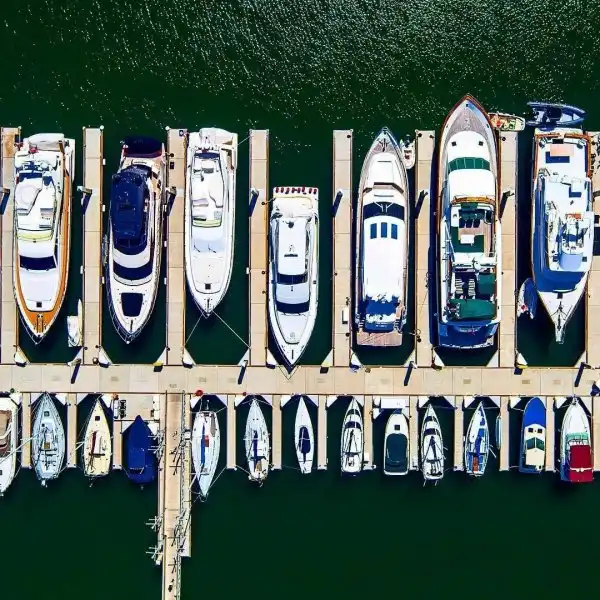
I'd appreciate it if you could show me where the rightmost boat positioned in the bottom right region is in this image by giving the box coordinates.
[555,395,594,483]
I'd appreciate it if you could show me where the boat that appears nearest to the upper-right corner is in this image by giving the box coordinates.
[528,101,587,127]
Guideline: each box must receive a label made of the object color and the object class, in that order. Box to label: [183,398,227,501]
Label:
white boat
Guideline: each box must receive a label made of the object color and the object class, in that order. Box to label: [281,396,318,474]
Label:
white boat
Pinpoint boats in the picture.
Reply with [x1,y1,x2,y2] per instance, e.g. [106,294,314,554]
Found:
[384,408,410,475]
[105,135,171,344]
[281,396,318,474]
[352,123,417,347]
[510,397,547,473]
[0,394,24,497]
[340,396,367,475]
[463,401,504,476]
[401,136,415,169]
[237,400,273,485]
[2,393,68,483]
[518,281,540,323]
[122,415,158,484]
[528,101,587,127]
[265,186,319,376]
[489,111,526,129]
[62,395,114,477]
[418,403,456,485]
[183,398,227,501]
[12,134,84,343]
[555,395,594,483]
[432,91,502,348]
[183,127,253,347]
[518,126,598,345]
